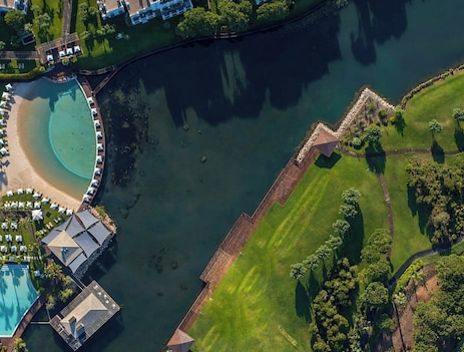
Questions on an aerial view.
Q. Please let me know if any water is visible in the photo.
Yes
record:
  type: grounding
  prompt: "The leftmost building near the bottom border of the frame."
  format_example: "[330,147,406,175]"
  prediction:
[51,281,120,350]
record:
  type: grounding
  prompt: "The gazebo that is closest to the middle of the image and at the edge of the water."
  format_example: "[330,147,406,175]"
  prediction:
[313,131,338,156]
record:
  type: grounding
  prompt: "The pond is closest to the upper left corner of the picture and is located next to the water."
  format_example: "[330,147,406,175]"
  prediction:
[0,77,98,212]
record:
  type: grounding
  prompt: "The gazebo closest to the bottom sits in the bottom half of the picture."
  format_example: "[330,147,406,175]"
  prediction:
[168,330,194,352]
